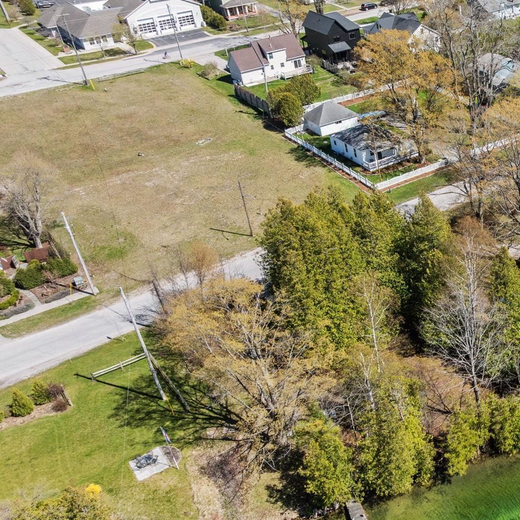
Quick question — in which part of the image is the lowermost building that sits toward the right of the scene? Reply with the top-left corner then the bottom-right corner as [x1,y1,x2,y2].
[324,117,422,170]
